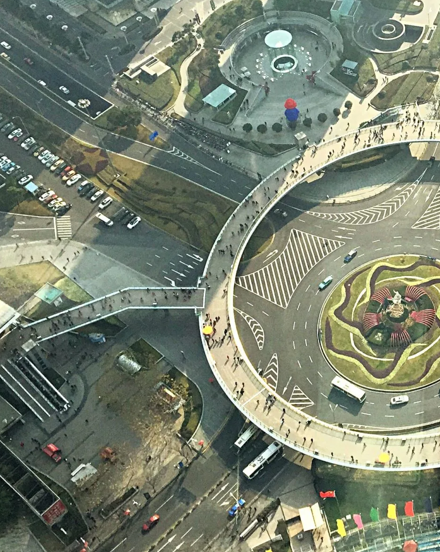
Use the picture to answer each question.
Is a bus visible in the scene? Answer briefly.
Yes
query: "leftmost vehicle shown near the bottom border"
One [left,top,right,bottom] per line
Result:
[141,514,161,532]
